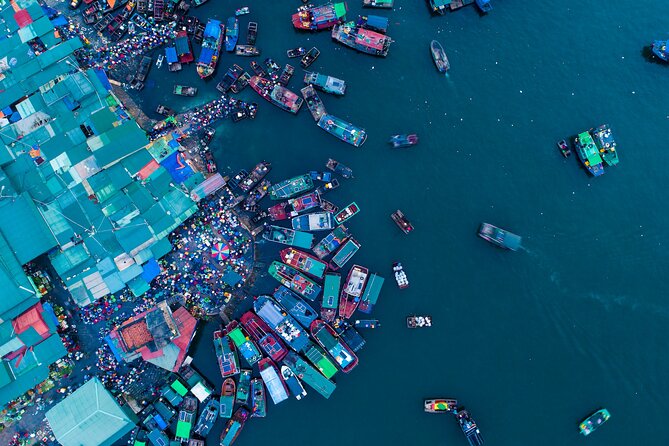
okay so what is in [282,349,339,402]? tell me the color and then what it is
blue ship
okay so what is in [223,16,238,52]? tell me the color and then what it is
blue boat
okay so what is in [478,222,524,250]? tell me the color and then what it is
blue ship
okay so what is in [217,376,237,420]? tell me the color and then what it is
blue boat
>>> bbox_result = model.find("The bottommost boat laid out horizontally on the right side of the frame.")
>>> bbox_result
[424,397,456,411]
